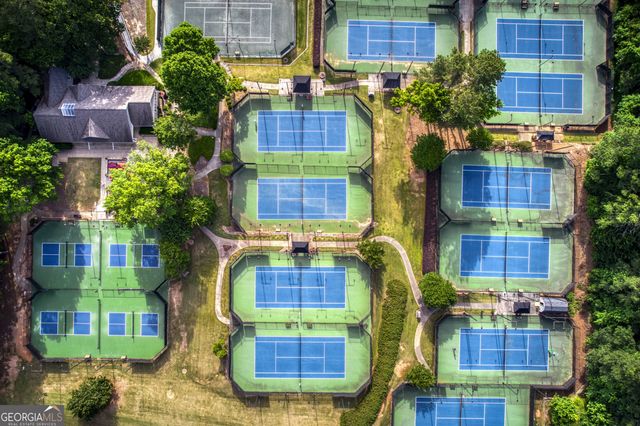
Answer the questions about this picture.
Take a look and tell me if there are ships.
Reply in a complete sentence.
No, the picture doesn't show any ship.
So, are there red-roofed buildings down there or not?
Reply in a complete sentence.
No, there appears to be no red-roofed building in this shot.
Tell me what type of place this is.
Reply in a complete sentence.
The area seen from above is a sports ground.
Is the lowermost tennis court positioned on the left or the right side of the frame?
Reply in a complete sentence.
The lowermost tennis court is on the right side of the image.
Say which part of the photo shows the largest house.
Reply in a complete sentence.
The largest house sits in the top left section of the image.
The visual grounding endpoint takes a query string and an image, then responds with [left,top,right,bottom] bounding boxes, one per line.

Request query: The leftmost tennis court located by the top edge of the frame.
[161,0,296,57]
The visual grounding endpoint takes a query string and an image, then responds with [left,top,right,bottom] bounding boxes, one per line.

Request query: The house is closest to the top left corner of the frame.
[33,66,159,152]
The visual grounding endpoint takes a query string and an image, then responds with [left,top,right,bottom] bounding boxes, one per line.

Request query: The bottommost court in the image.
[393,385,531,426]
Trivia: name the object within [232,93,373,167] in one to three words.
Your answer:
tennis court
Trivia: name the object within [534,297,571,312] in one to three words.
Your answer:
shed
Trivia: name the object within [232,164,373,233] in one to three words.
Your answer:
tennis court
